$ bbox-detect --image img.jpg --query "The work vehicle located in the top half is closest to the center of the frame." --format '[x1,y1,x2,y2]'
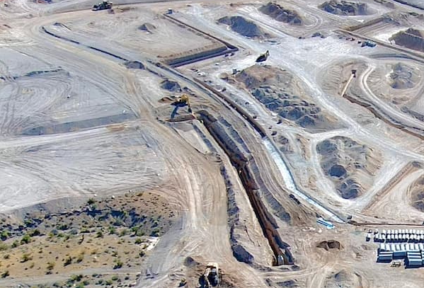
[171,95,191,114]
